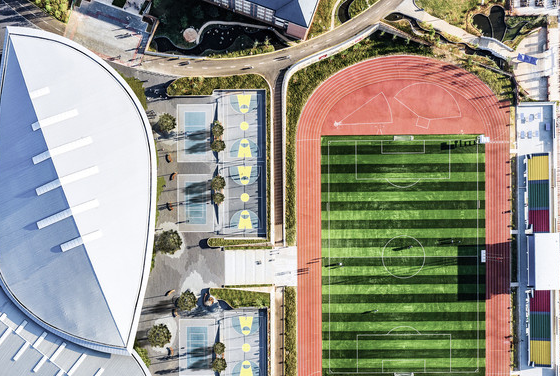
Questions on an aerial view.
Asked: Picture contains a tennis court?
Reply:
Yes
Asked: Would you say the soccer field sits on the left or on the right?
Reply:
right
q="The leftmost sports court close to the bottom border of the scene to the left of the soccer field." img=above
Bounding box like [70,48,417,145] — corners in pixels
[179,319,216,376]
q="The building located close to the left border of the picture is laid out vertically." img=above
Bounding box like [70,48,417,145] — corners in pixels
[0,28,157,354]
